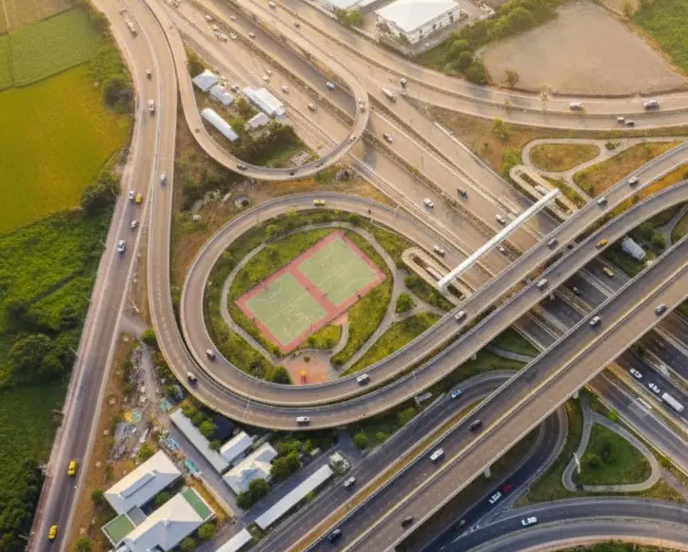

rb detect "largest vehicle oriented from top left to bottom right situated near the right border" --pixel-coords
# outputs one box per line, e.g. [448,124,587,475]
[661,392,683,412]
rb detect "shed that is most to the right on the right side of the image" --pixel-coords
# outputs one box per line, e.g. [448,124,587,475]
[623,240,646,264]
